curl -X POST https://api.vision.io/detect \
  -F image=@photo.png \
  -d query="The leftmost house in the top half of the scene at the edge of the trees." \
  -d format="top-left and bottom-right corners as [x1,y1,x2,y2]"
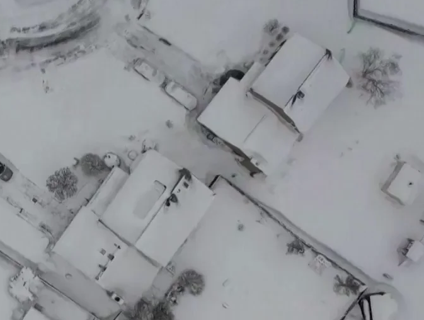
[195,33,351,176]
